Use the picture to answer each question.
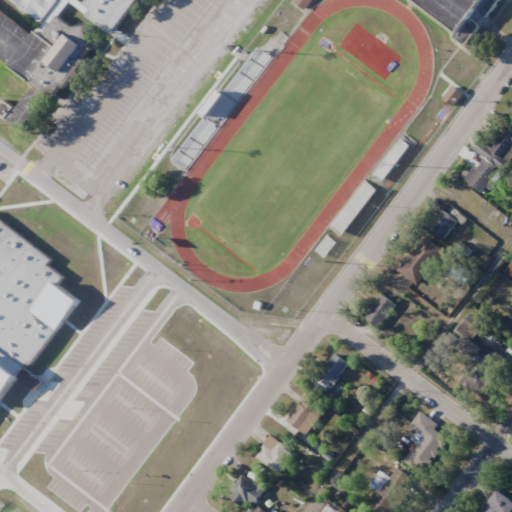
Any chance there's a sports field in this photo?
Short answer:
Yes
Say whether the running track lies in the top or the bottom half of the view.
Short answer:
top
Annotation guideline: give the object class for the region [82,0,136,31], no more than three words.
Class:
building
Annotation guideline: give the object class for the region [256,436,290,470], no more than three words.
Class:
house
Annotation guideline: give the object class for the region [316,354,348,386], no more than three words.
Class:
house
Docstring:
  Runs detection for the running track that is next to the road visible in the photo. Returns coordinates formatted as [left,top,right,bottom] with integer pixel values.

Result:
[156,0,436,298]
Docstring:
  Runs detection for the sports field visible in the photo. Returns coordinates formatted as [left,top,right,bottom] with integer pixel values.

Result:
[186,2,420,282]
